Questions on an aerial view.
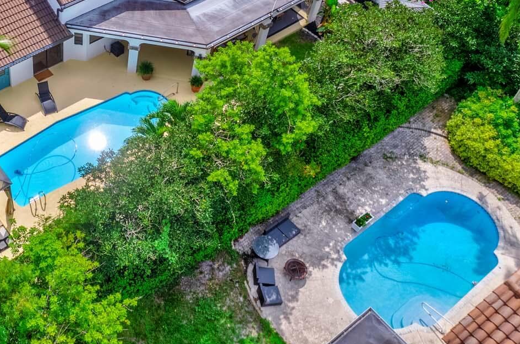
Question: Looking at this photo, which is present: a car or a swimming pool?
swimming pool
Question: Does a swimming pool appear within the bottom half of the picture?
Yes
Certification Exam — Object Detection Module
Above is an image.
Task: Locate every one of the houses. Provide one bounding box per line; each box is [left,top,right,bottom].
[434,264,520,344]
[0,0,321,90]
